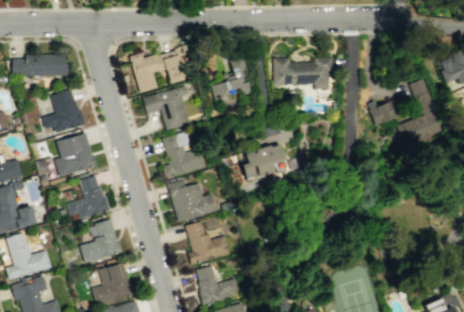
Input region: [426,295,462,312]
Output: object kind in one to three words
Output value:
house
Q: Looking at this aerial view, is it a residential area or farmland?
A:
residential area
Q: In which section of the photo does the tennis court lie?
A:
bottom right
